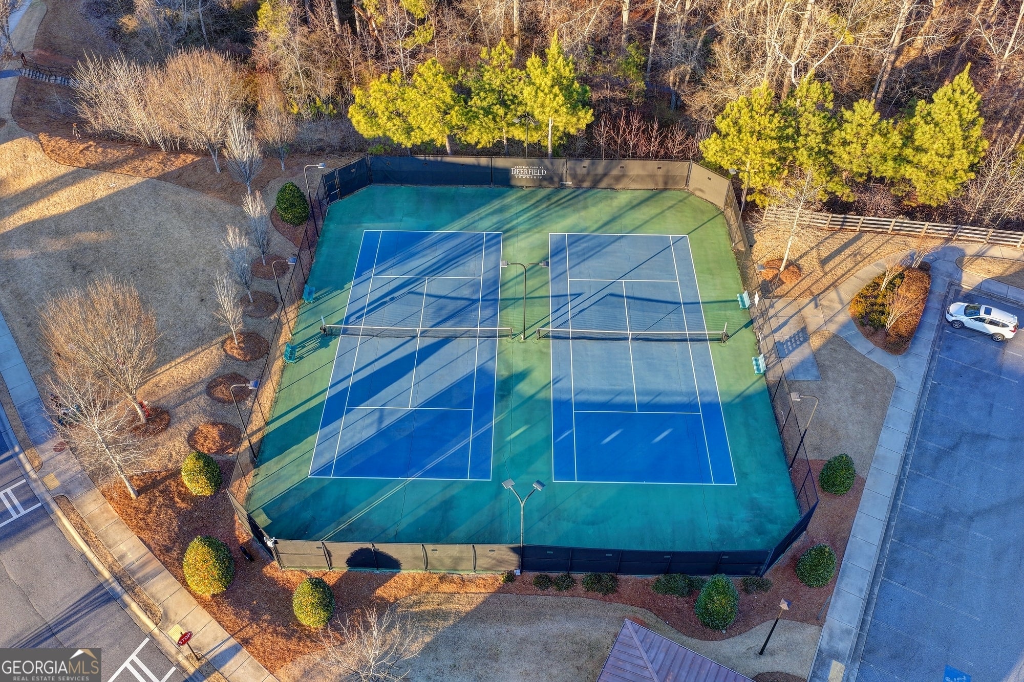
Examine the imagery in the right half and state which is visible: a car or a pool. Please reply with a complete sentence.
The one visible in the right half is a car.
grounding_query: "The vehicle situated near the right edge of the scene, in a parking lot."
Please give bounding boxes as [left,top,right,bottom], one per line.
[945,302,1021,342]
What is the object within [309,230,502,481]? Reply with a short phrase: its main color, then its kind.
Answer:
blue tennis court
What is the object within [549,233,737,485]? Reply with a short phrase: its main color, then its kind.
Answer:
blue tennis court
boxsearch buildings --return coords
[595,617,756,682]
